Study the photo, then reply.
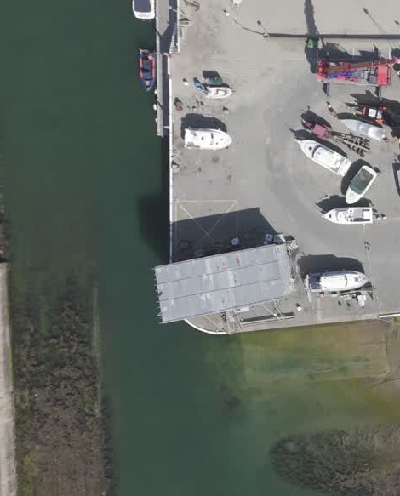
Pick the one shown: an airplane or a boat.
boat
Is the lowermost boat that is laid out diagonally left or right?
right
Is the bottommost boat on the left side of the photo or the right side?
right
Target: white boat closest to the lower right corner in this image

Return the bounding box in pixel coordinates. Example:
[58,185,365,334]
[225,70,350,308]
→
[301,271,367,295]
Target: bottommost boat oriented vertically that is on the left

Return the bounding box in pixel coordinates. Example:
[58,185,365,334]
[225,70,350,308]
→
[137,44,155,90]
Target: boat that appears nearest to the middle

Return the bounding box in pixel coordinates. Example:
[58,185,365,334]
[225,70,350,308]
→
[185,130,234,150]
